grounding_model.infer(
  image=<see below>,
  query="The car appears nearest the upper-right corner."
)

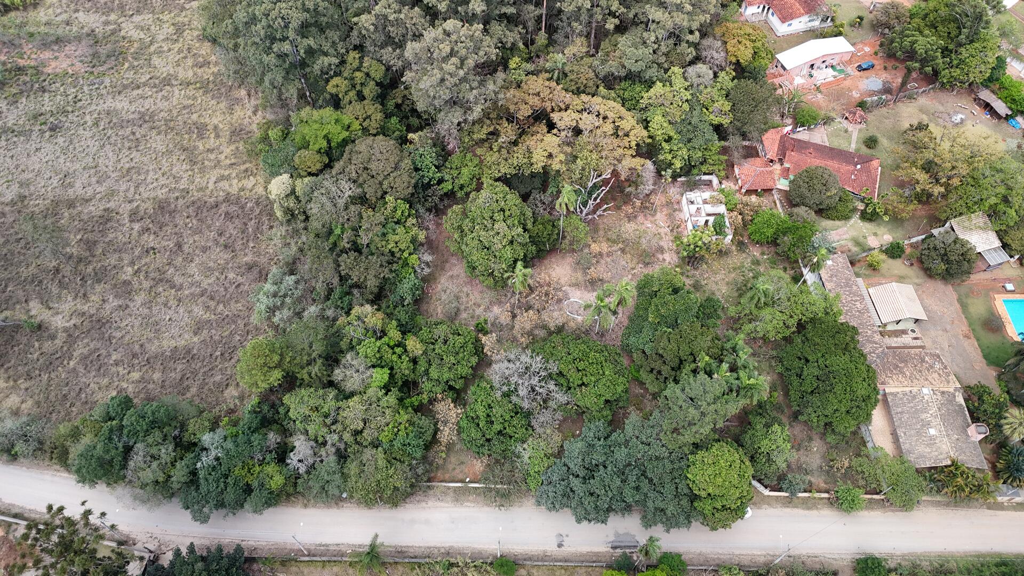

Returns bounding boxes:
[858,59,875,71]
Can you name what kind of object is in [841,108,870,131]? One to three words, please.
gazebo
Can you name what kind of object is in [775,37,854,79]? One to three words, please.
house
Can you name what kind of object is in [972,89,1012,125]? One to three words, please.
shed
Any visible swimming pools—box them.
[994,294,1024,342]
